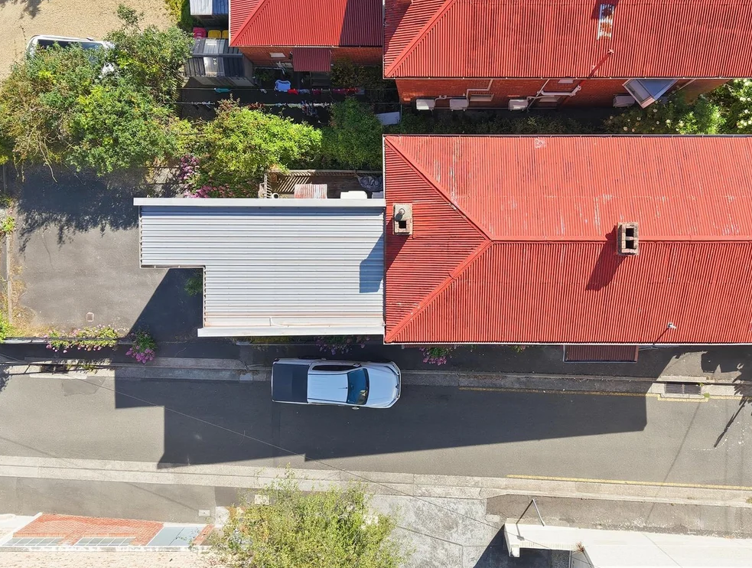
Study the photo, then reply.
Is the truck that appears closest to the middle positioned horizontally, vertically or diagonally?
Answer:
horizontally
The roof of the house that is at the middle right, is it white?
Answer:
No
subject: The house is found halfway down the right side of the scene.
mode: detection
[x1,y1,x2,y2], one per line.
[383,133,752,367]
